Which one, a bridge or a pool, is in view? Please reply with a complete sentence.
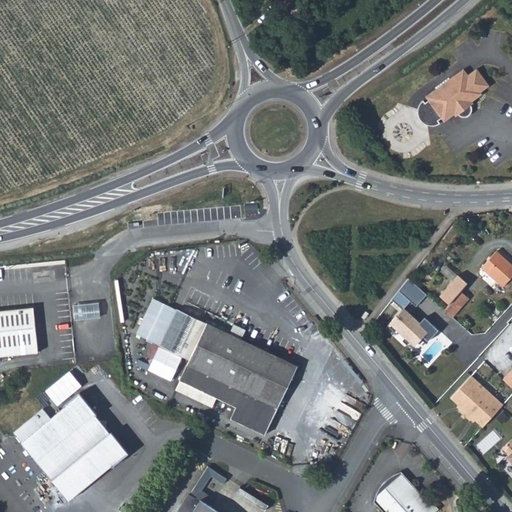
There is a pool in the scene.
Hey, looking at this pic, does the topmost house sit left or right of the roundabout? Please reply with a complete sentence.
Looking at the photo, the topmost house lies to the right of the roundabout.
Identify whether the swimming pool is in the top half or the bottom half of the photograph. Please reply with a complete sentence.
You can find the swimming pool in the bottom half.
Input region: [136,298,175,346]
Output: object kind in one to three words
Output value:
greenhouse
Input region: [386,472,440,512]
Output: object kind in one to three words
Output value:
building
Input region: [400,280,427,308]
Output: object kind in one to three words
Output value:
building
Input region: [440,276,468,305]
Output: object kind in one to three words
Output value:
house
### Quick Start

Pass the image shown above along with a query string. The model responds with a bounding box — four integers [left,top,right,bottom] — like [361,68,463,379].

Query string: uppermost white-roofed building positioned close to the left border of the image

[0,308,38,358]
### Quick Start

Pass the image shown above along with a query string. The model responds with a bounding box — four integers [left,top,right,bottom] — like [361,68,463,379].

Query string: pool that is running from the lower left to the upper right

[417,332,453,368]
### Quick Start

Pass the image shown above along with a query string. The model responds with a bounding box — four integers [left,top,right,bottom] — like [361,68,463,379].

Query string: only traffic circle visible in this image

[226,80,326,181]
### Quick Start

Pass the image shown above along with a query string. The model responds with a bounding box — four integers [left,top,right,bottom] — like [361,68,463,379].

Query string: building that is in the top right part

[418,68,490,126]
